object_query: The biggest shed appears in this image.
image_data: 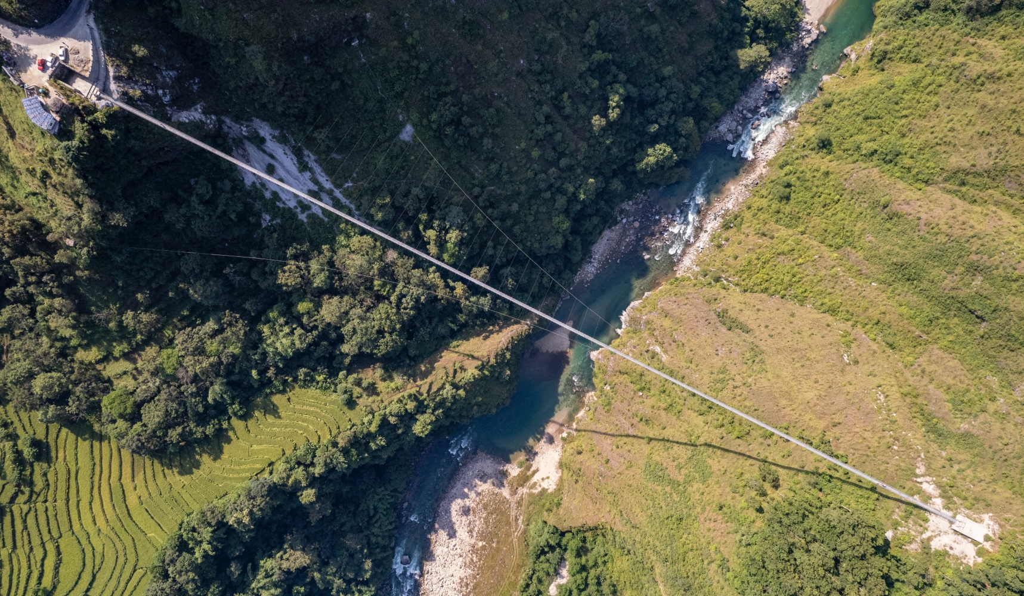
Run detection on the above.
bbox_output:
[22,96,64,130]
